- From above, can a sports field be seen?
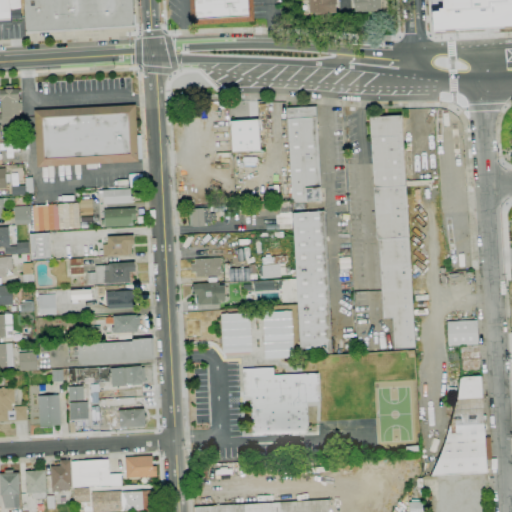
Yes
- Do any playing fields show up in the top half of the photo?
No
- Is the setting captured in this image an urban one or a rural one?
urban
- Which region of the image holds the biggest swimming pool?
left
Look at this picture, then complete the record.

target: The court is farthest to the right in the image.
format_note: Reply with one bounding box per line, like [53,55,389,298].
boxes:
[377,378,419,446]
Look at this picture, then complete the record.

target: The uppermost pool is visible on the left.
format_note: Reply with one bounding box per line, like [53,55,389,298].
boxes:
[36,262,57,288]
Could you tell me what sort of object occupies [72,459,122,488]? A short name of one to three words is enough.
building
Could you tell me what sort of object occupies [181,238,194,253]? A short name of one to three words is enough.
vehicle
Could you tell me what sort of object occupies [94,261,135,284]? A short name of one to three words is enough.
house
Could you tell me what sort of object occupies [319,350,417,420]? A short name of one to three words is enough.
sports field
